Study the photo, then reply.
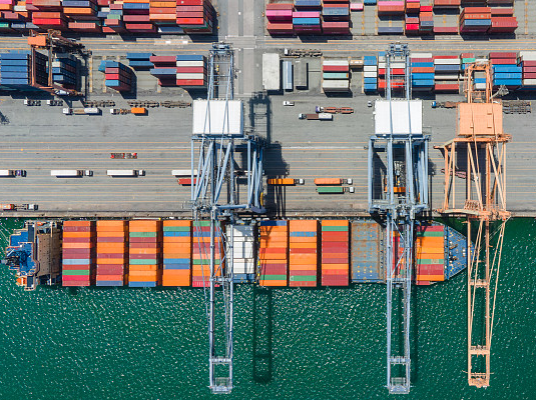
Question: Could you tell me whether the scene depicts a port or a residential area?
port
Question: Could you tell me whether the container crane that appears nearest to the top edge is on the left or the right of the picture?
left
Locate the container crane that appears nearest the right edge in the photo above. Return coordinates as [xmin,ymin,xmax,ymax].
[429,66,516,387]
